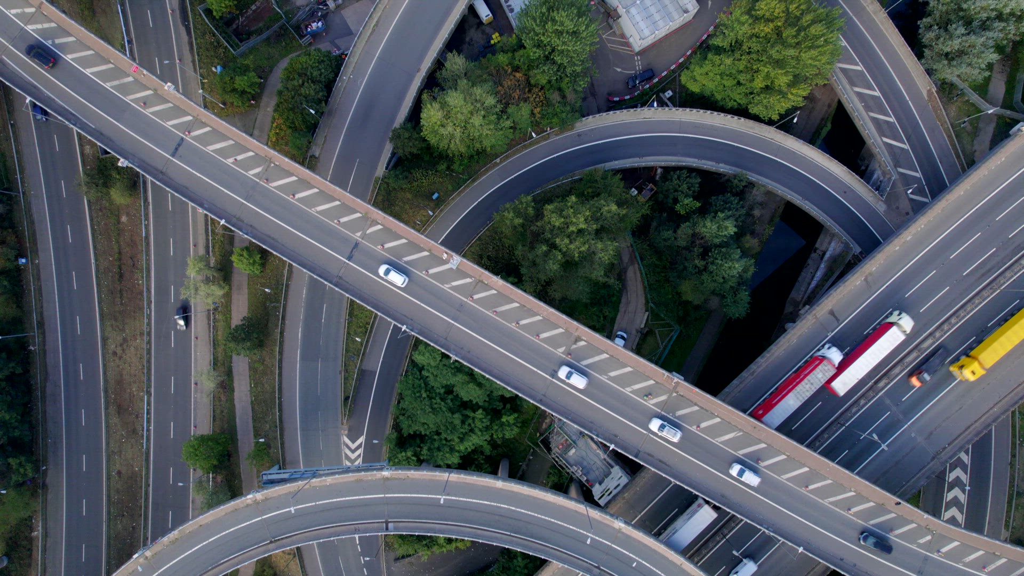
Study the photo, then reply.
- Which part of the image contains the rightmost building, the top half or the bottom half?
top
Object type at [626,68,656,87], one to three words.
vehicle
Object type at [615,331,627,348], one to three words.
vehicle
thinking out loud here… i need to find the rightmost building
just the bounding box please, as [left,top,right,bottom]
[609,0,704,53]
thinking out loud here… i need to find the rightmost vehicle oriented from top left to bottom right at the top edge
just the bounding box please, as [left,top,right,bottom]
[468,0,493,27]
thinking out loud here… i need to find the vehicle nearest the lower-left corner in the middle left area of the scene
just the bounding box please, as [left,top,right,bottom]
[172,304,186,329]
